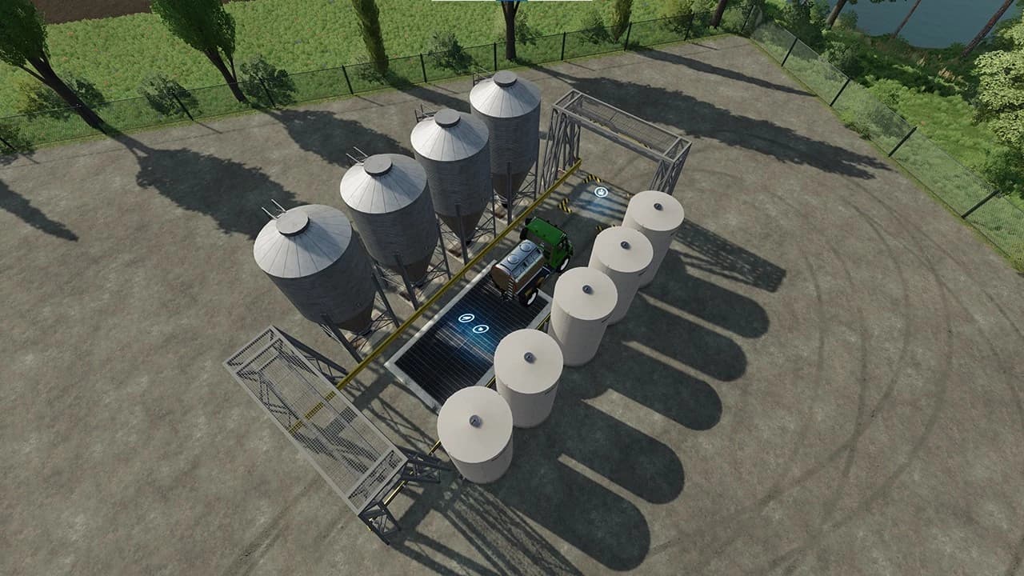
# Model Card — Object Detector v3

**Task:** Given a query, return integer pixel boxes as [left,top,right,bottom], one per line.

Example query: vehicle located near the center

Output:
[486,214,575,309]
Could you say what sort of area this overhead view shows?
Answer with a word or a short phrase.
industrial area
